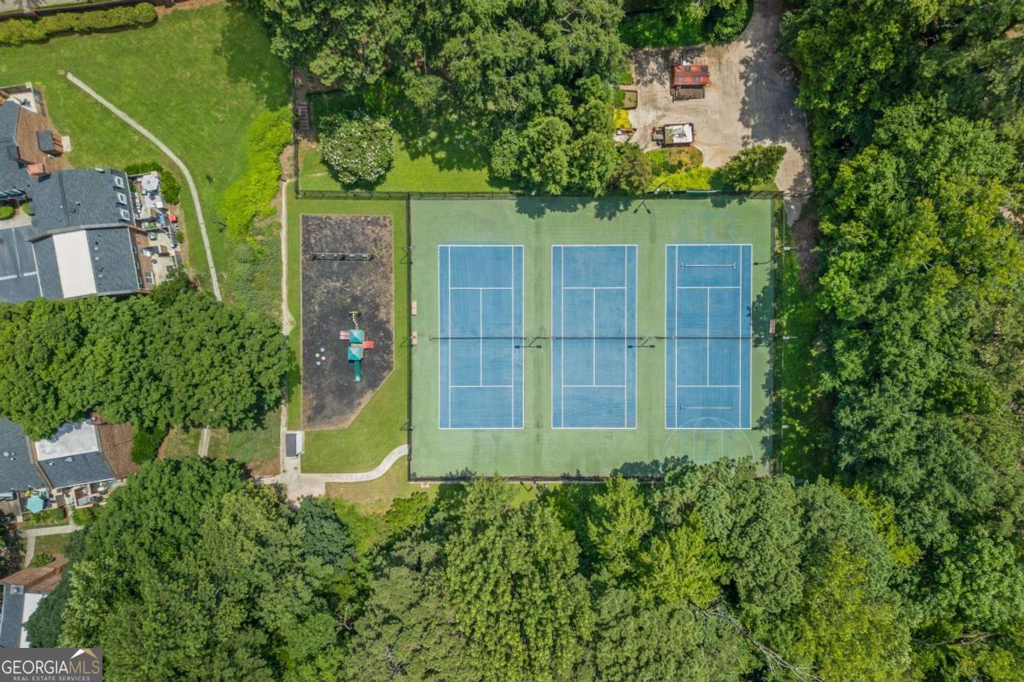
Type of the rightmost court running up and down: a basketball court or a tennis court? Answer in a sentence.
It turns out the rightmost court running up and down is a tennis court.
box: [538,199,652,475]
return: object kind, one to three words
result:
tennis court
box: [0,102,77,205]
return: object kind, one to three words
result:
house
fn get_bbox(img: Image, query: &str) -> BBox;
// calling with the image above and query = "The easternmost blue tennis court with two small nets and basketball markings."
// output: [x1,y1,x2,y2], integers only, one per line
[652,199,773,475]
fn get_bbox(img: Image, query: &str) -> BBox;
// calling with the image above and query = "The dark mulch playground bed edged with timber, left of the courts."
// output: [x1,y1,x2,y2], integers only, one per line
[300,214,395,429]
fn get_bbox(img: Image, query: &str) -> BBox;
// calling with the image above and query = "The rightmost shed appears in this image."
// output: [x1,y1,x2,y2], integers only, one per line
[671,65,709,102]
